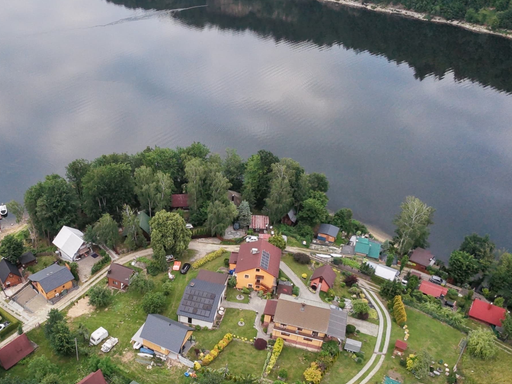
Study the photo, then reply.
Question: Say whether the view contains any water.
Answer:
Yes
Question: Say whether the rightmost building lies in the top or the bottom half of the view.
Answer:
bottom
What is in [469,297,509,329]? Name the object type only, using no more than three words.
building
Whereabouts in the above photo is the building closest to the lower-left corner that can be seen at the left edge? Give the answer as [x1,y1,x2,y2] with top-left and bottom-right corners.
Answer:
[0,334,35,371]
